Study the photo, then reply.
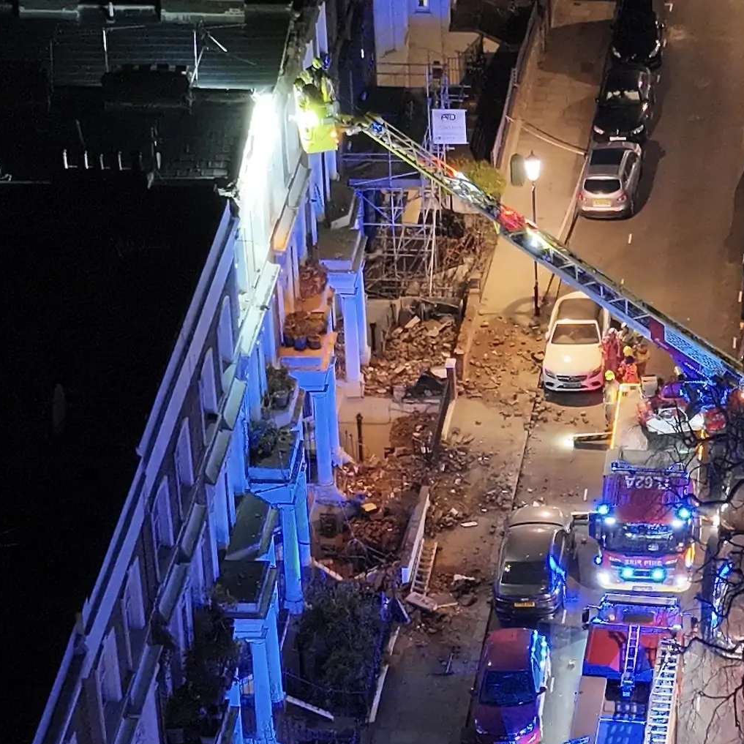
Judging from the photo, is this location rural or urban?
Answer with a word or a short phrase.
urban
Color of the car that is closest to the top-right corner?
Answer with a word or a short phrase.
black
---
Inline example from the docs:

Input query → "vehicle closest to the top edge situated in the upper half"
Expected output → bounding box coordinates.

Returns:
[608,0,668,58]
